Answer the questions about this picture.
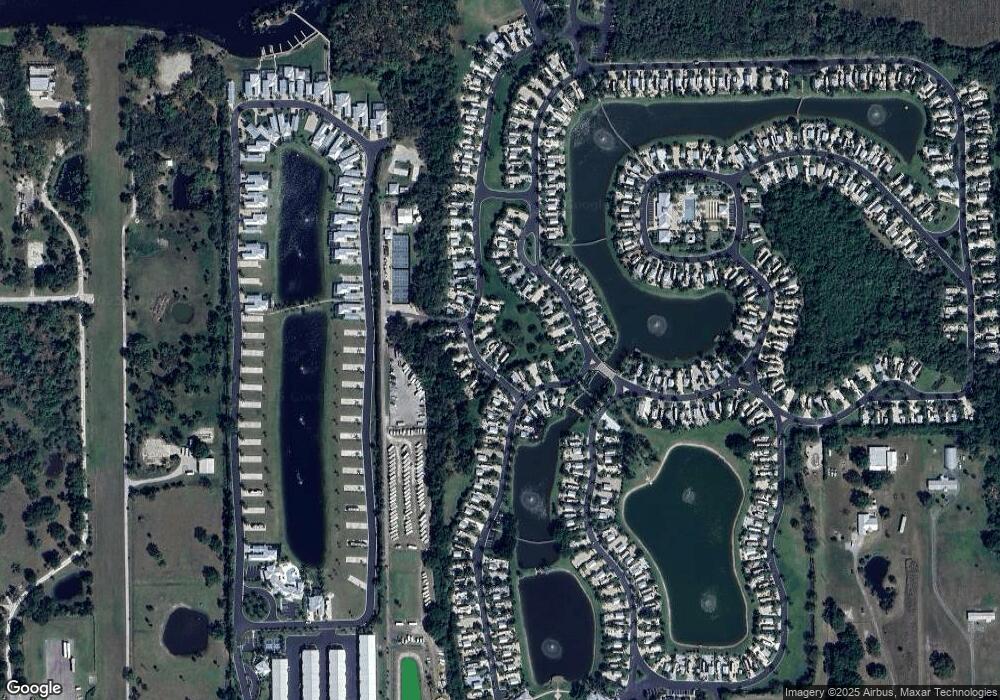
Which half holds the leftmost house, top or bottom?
top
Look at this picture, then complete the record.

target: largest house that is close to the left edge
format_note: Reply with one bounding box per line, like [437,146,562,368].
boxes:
[29,64,54,92]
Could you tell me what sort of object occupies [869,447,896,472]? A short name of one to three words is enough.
barn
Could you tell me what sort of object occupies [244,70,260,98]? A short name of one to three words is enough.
house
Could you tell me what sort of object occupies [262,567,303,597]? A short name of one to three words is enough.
building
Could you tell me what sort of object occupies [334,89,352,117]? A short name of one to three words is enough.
house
